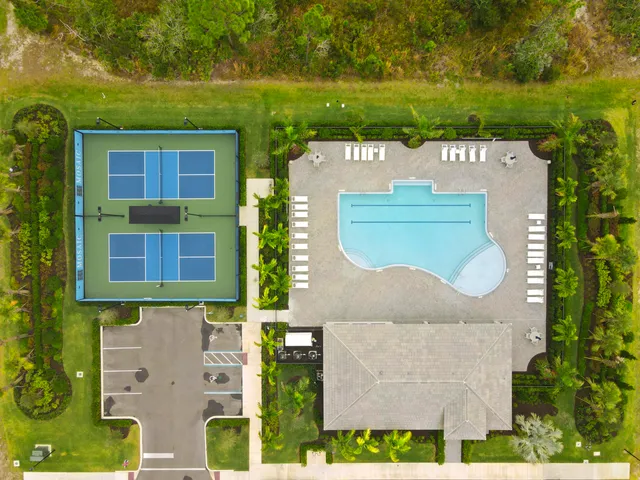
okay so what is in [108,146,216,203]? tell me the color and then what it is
blue sports court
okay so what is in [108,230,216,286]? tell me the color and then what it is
blue sports court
